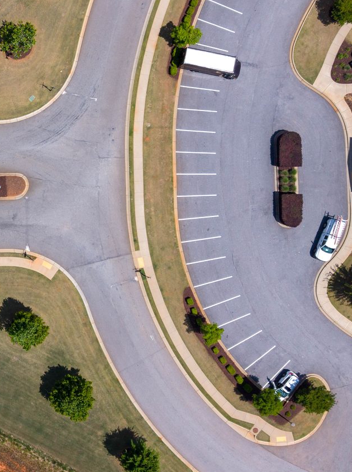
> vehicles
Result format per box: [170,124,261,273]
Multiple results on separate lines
[272,372,302,409]
[176,47,237,76]
[315,216,351,263]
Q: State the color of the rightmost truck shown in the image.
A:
white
